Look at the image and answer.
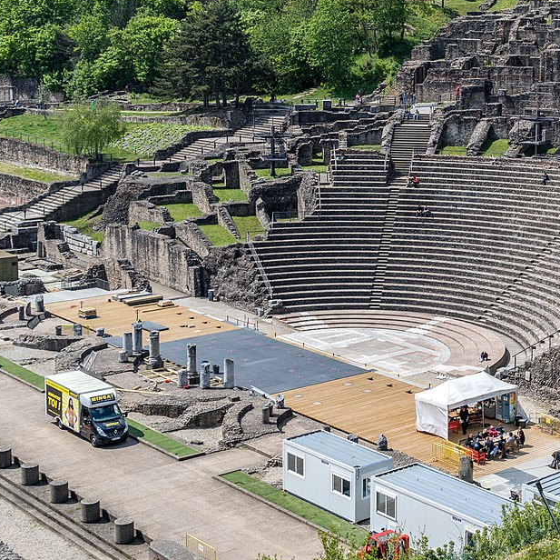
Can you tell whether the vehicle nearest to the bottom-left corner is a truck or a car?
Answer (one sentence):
What you see as the vehicle nearest to the bottom-left corner is a truck.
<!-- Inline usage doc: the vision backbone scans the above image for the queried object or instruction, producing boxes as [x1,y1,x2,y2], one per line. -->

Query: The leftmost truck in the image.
[43,370,133,452]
